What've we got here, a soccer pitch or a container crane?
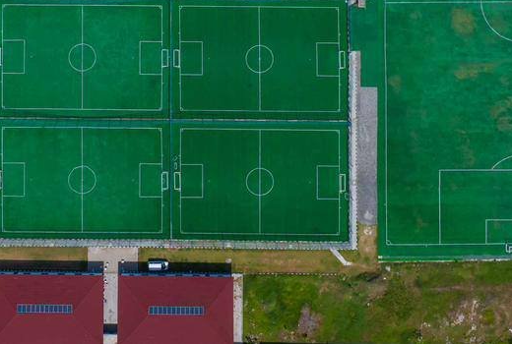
soccer pitch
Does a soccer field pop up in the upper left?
Yes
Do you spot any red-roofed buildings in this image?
Yes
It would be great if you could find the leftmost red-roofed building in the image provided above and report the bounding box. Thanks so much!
[0,271,104,344]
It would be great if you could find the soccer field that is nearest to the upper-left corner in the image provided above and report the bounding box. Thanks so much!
[0,0,169,120]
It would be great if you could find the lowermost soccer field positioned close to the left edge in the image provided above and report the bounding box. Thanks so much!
[0,121,169,239]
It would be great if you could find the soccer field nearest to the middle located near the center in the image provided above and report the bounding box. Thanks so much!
[170,120,348,239]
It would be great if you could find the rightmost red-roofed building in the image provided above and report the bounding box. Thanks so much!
[118,272,233,344]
